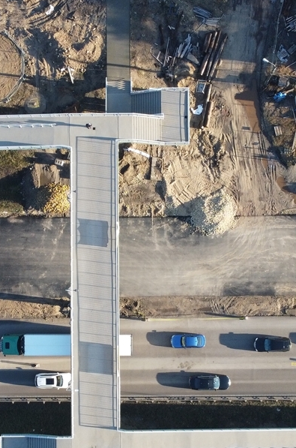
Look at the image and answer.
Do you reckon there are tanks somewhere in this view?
No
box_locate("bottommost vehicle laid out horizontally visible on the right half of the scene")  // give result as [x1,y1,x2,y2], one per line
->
[188,373,230,391]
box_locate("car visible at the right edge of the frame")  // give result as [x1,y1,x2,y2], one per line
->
[254,335,291,353]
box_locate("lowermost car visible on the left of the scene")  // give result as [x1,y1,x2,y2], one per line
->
[35,372,73,389]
